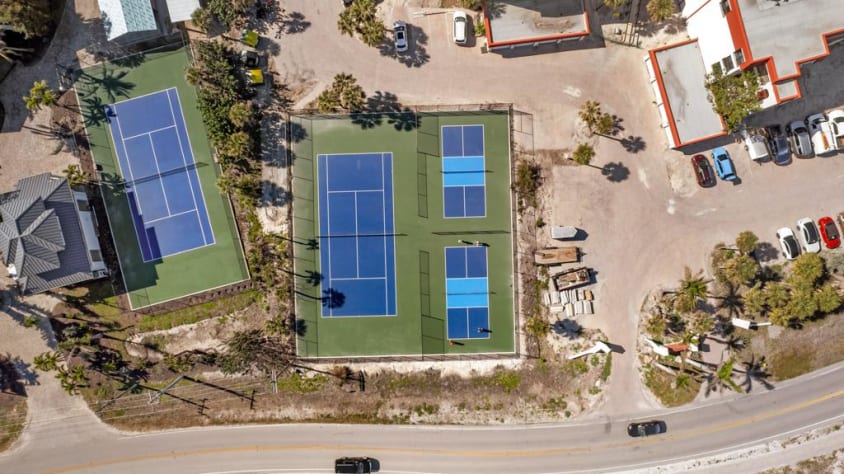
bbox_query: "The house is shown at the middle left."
[0,176,111,297]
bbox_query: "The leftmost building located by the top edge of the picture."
[98,0,168,48]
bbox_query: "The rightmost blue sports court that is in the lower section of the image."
[444,246,491,339]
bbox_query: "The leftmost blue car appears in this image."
[713,148,734,181]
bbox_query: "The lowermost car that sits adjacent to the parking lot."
[627,420,665,438]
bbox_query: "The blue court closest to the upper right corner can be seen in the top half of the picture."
[440,124,488,218]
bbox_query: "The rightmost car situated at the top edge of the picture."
[452,12,468,45]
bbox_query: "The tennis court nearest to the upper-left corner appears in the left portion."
[69,45,250,310]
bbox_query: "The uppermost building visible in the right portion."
[481,0,590,54]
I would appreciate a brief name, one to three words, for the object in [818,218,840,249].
car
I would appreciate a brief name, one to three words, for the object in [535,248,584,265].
trailer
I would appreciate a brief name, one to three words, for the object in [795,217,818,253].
car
